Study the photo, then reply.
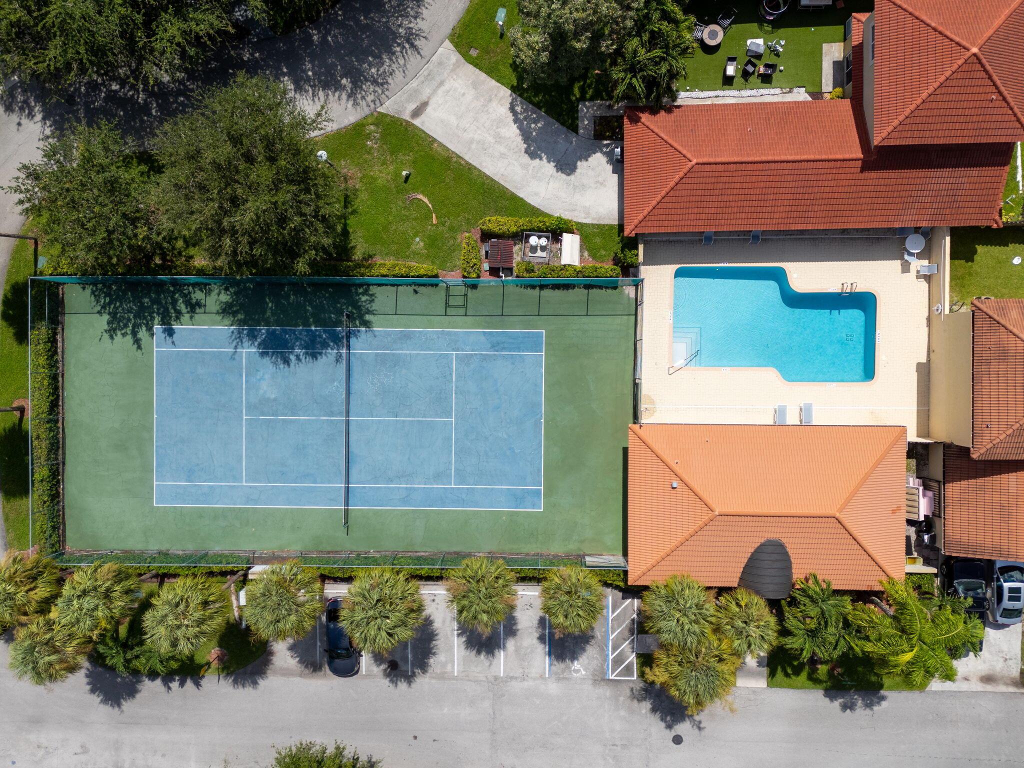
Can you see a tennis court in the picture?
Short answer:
Yes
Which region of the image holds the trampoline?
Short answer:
top right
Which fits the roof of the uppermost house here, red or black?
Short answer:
red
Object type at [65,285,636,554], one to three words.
tennis court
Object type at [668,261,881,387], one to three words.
swimming pool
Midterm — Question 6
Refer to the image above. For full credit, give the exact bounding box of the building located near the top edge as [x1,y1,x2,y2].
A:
[623,0,1024,238]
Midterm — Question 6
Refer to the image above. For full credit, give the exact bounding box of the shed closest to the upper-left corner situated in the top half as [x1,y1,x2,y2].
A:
[489,240,514,282]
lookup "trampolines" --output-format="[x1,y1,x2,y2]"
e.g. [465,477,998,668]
[756,0,794,32]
